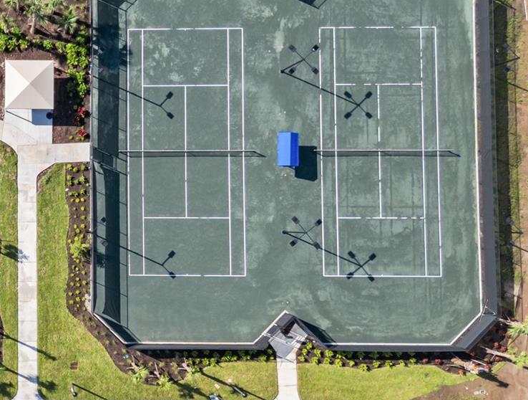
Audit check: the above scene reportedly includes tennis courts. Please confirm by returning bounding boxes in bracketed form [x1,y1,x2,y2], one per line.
[129,29,245,276]
[321,28,440,275]
[91,0,484,345]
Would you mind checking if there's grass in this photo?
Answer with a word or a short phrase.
Yes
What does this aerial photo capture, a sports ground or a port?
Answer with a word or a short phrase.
sports ground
